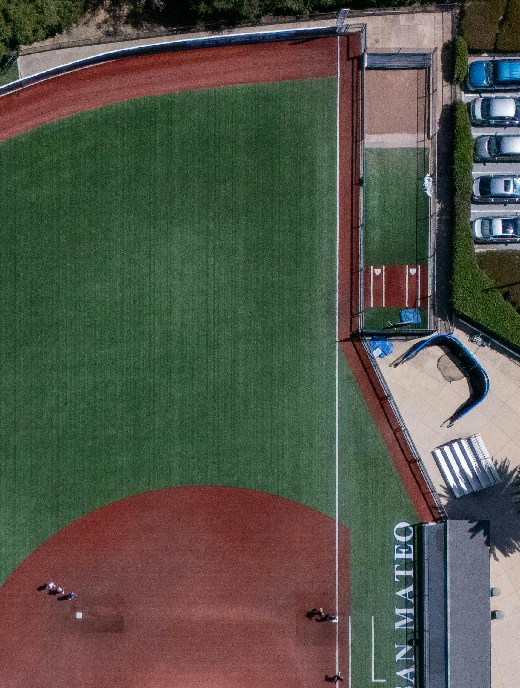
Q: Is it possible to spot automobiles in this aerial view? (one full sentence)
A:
Yes, you can see an automobile in this photo.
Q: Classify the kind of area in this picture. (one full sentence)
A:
The area seen from above is a sports ground.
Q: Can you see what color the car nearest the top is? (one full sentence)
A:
From above, the car nearest the top appears blue.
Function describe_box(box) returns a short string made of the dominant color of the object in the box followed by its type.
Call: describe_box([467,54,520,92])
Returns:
blue car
